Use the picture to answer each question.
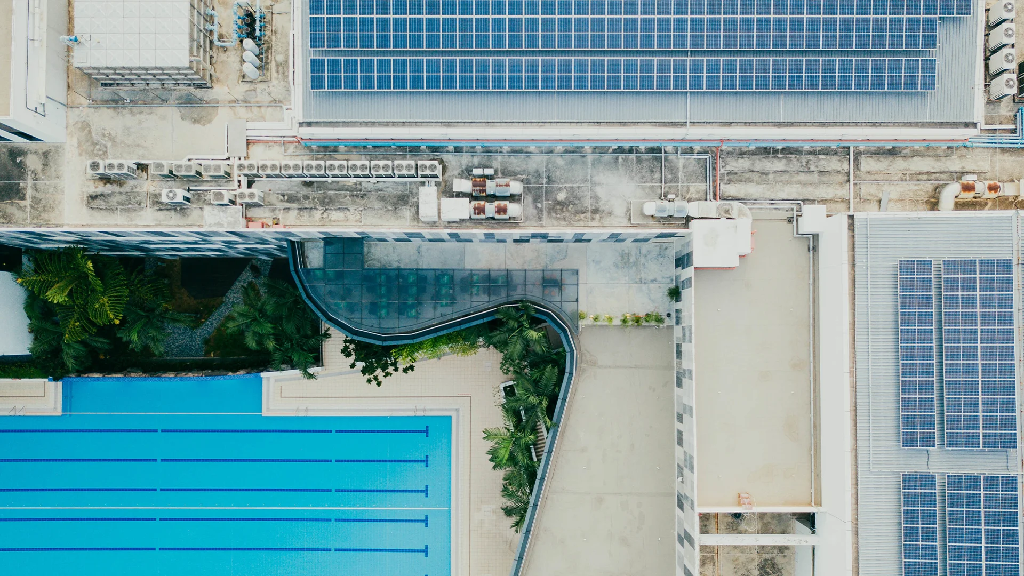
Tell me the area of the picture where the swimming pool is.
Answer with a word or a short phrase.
bottom left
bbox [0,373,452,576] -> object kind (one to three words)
swimming pool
